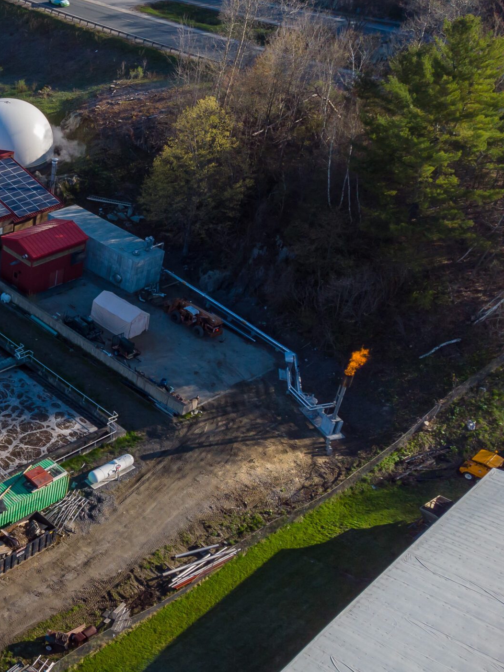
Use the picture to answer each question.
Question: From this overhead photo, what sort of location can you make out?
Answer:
industrial area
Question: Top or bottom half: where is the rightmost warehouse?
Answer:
bottom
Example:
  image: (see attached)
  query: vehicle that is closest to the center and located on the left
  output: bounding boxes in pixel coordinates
[158,295,223,336]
